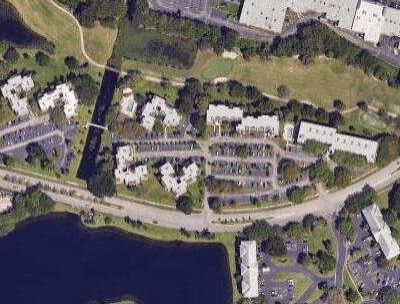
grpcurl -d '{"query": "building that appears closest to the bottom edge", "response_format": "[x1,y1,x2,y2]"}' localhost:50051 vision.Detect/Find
[240,239,259,297]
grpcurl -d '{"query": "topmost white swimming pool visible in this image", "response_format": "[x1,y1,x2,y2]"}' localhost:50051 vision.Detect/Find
[121,95,138,118]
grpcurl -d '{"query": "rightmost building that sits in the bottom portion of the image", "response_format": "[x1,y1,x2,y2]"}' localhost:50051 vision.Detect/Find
[361,204,400,258]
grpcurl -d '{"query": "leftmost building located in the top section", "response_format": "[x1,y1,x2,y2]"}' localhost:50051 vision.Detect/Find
[1,75,35,116]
